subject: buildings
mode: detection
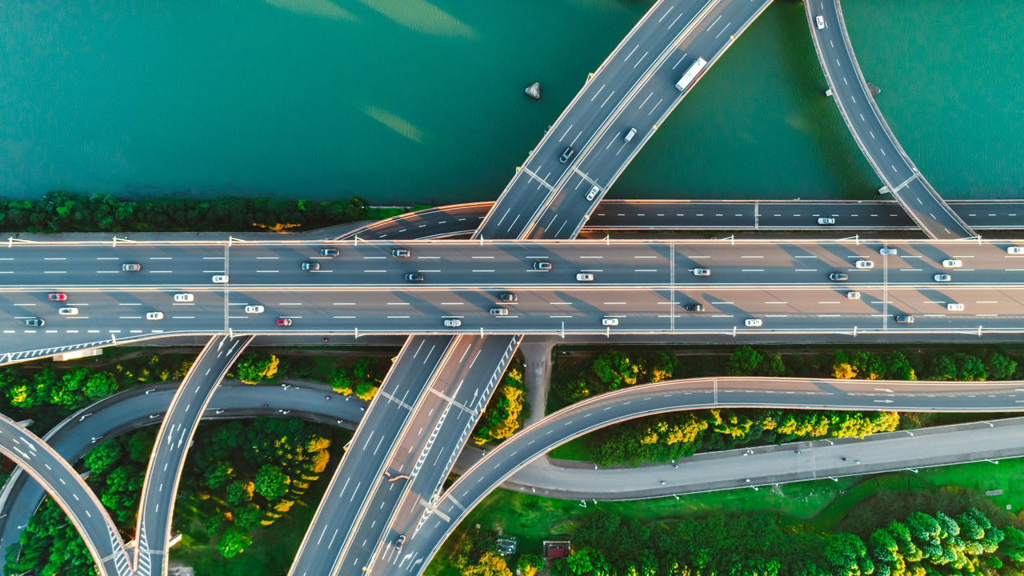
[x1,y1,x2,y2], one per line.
[550,546,564,558]
[496,536,517,554]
